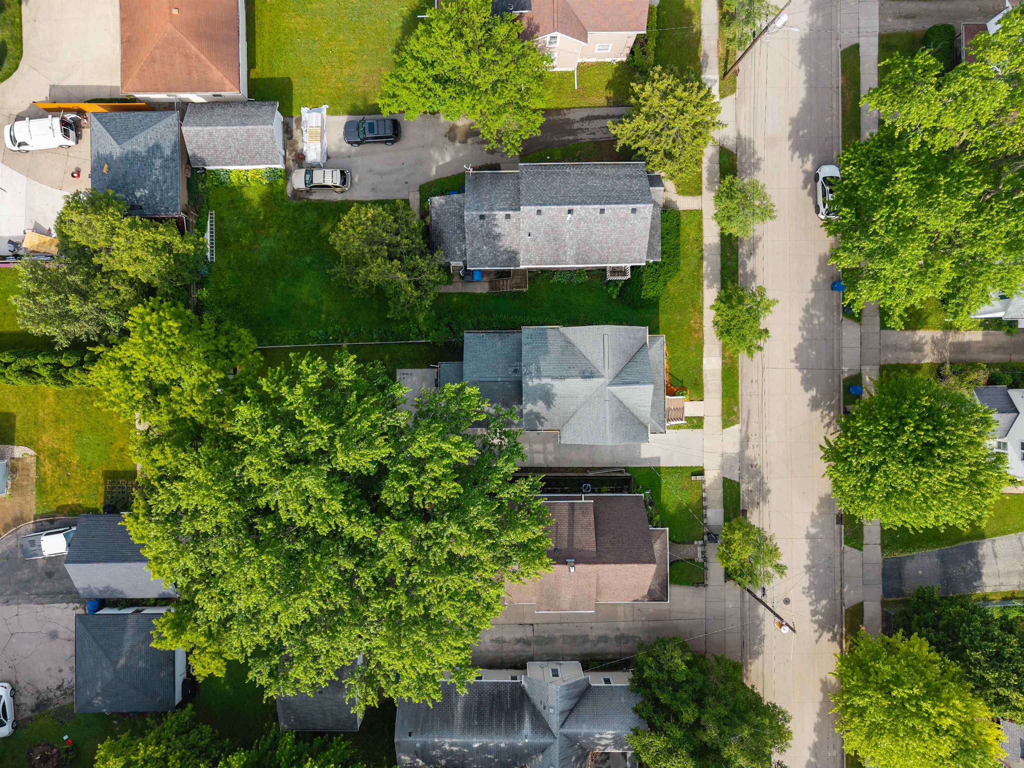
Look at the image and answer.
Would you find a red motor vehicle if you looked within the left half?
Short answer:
No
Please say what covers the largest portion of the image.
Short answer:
trees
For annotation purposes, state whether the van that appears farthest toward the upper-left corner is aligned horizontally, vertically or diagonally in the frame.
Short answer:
horizontally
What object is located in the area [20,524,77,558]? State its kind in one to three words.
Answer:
truck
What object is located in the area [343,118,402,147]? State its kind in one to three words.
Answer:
car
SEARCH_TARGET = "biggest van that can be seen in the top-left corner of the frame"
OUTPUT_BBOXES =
[5,113,88,154]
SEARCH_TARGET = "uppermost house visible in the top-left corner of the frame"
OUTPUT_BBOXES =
[119,0,248,102]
